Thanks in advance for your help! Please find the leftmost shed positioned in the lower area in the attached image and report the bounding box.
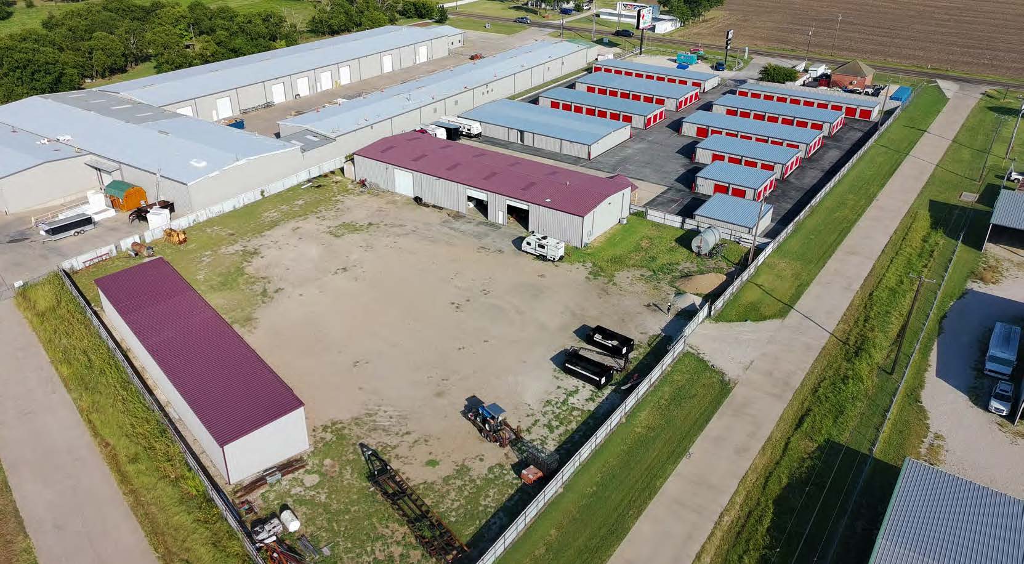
[93,255,309,483]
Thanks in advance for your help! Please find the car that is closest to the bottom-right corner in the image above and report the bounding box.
[988,377,1016,414]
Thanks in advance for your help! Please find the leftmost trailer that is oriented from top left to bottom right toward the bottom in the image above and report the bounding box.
[357,433,470,557]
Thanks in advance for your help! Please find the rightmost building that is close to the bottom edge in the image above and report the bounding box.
[862,457,1024,564]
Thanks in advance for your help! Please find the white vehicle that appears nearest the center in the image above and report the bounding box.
[519,232,565,261]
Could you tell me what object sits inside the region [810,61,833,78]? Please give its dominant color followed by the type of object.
white vehicle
